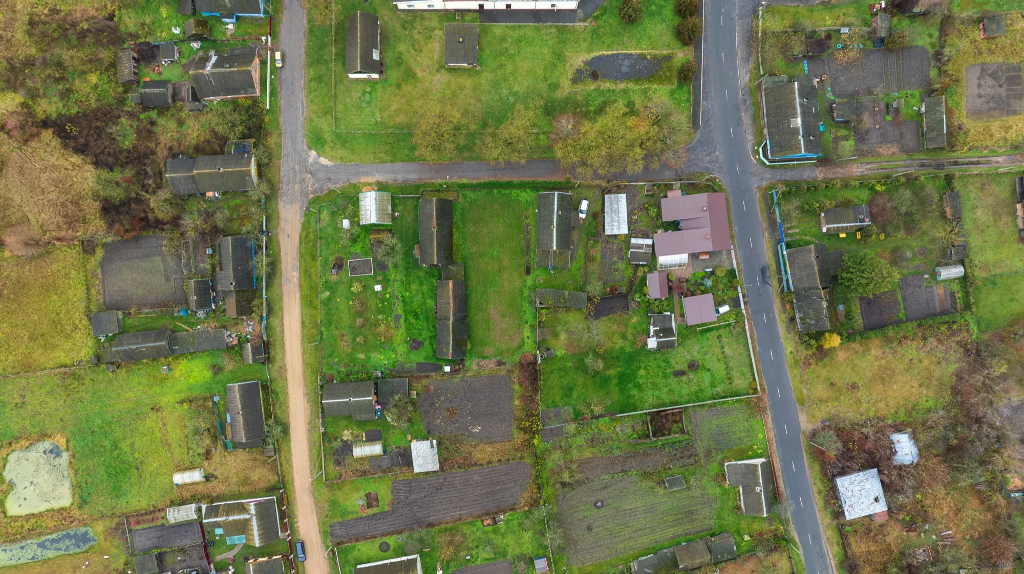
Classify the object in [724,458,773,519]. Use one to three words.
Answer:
house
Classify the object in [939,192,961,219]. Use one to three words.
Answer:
shed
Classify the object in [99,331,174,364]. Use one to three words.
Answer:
barn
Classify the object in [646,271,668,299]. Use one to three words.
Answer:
building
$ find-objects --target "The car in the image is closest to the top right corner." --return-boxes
[758,265,770,283]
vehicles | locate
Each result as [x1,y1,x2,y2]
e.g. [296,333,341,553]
[715,304,731,315]
[297,541,306,561]
[579,199,588,218]
[276,51,284,68]
[758,265,770,283]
